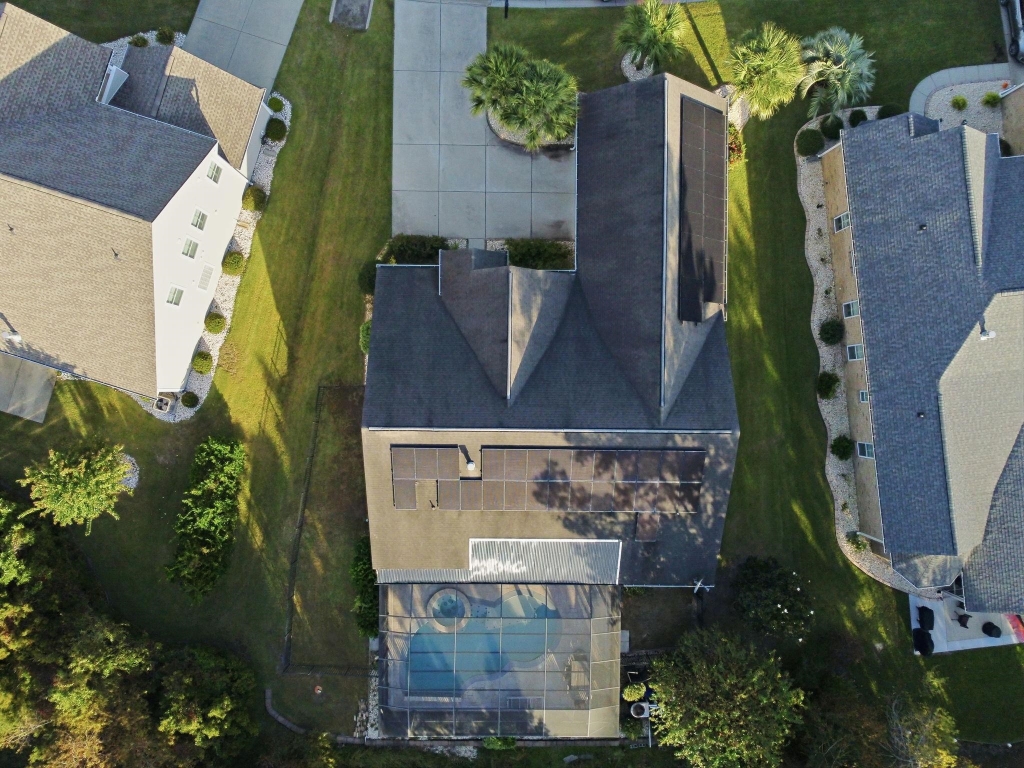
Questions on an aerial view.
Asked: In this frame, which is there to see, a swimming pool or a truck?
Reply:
swimming pool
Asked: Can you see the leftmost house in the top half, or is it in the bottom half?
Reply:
top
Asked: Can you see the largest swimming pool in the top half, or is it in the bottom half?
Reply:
bottom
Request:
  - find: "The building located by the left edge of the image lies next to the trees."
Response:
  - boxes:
[0,0,284,404]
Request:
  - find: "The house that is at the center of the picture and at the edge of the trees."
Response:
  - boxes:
[362,73,738,587]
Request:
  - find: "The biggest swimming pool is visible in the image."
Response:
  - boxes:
[401,586,567,705]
